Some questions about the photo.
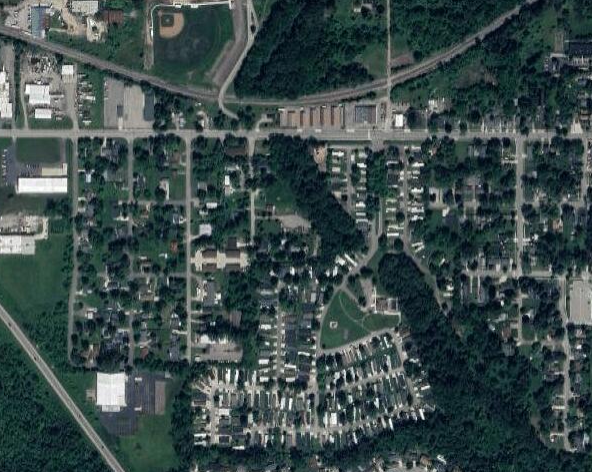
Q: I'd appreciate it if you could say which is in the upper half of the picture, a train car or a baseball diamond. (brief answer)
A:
baseball diamond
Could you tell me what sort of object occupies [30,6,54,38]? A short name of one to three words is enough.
building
